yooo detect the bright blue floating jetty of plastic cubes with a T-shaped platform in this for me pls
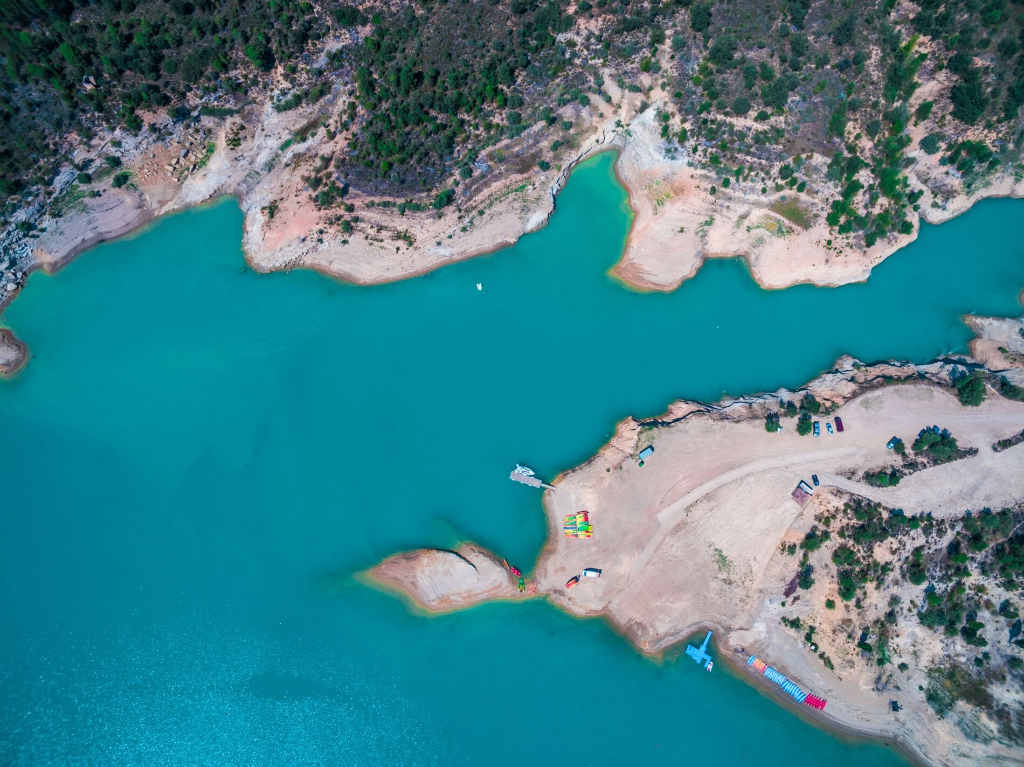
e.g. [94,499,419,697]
[685,630,713,667]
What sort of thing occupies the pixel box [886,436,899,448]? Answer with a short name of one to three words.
vehicle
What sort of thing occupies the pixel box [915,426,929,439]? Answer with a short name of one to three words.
vehicle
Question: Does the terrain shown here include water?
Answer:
Yes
